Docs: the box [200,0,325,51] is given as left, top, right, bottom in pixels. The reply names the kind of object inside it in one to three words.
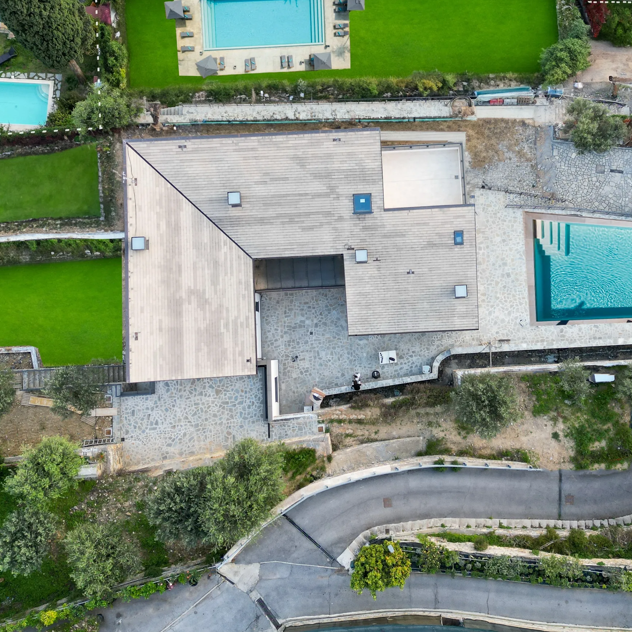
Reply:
swimming pool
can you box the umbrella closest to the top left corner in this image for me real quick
[165,1,186,22]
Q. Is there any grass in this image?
Yes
